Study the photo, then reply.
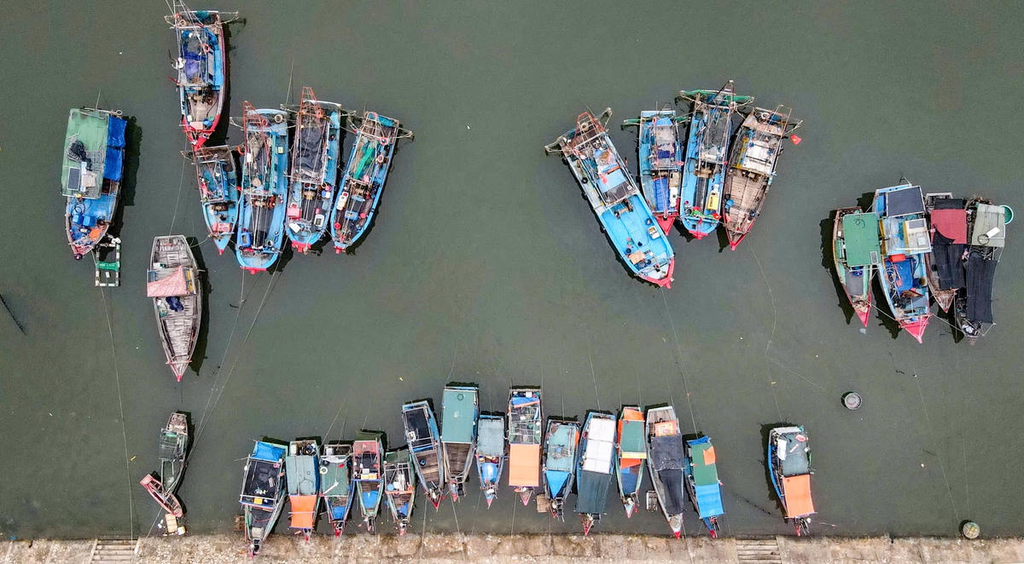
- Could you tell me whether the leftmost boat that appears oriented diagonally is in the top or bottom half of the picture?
bottom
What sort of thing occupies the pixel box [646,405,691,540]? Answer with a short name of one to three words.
boat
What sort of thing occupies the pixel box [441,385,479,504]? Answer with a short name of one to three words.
boat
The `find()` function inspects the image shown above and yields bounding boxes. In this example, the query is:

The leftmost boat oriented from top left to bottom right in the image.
[139,474,183,520]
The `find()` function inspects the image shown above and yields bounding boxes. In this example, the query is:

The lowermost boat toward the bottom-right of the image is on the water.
[959,520,979,539]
